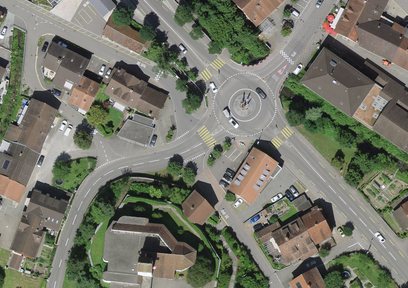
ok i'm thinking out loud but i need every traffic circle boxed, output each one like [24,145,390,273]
[210,69,282,140]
